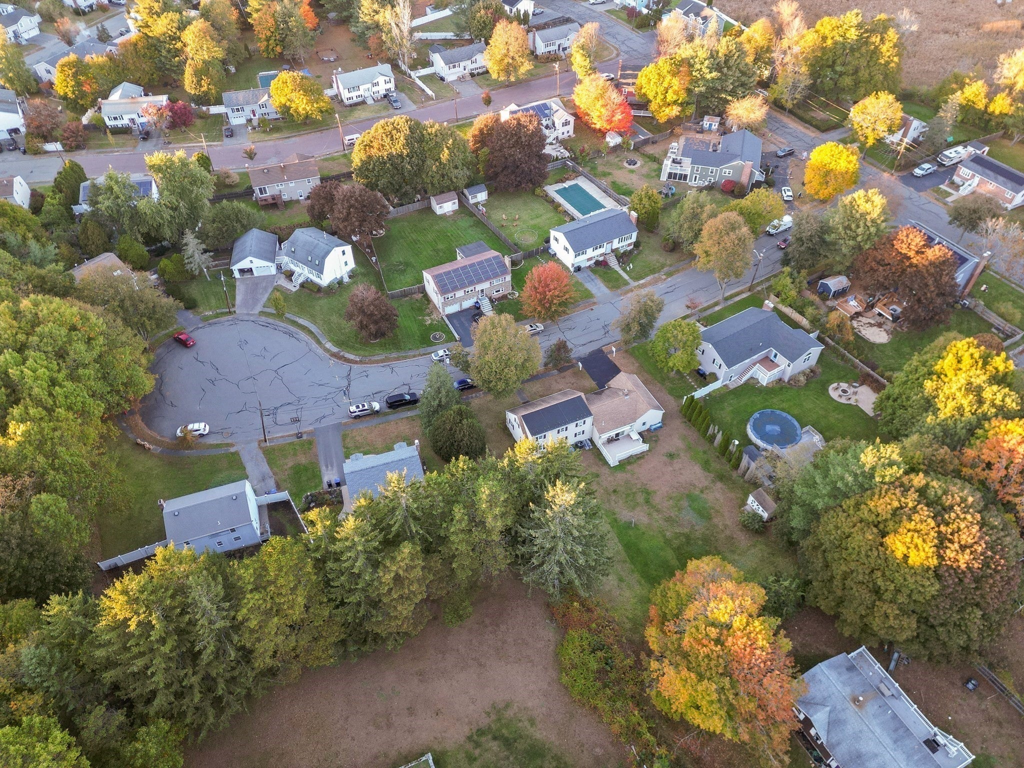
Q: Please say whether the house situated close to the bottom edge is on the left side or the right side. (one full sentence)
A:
The house situated close to the bottom edge appears in the right half of the scene.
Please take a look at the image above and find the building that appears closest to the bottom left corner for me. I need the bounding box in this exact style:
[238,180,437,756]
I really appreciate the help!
[155,480,272,555]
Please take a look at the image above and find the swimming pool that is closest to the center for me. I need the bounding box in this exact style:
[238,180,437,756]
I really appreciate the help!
[553,182,607,216]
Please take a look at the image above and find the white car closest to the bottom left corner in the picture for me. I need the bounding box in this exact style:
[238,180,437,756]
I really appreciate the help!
[175,419,210,439]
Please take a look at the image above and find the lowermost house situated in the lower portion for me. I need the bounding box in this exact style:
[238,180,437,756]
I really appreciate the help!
[802,644,980,768]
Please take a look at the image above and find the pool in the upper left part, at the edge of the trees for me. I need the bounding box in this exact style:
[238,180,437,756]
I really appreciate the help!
[257,70,282,87]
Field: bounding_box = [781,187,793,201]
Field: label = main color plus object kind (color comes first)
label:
white vehicle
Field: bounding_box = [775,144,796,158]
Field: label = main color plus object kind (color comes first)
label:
gray car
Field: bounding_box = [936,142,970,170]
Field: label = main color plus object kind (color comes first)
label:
white camper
